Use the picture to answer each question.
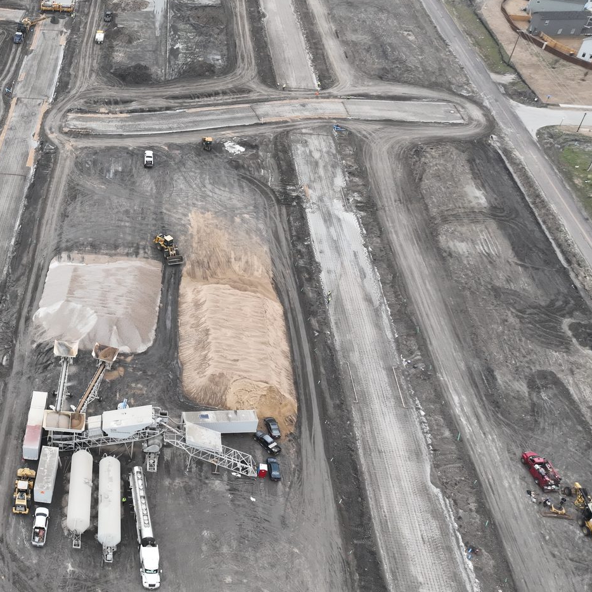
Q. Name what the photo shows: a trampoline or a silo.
silo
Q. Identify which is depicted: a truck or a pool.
truck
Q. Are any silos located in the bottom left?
Yes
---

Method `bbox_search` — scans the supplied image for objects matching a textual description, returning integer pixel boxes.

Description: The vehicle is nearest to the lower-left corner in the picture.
[32,507,49,547]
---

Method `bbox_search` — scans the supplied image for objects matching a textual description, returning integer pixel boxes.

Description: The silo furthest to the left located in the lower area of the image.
[67,449,93,560]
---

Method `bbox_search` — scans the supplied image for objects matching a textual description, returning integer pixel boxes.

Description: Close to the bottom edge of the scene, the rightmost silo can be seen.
[97,456,120,578]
